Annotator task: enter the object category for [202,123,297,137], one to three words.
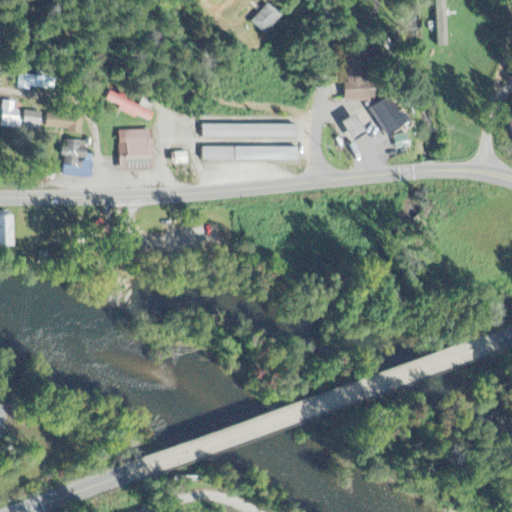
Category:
building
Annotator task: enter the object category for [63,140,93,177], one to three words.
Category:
house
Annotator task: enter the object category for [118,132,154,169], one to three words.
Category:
house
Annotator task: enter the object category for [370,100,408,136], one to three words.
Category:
building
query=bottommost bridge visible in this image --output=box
[140,326,512,476]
